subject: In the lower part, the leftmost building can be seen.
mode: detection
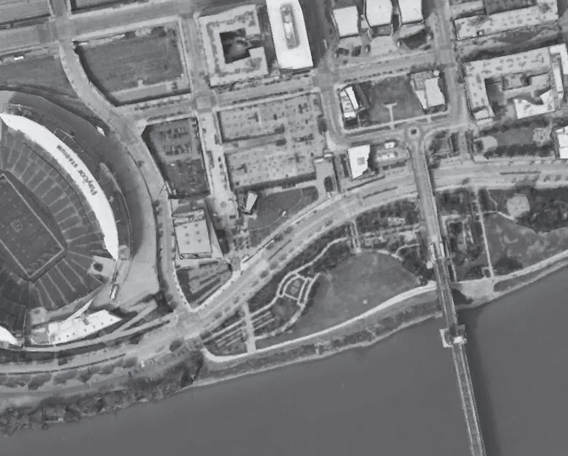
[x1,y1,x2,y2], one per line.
[49,309,122,344]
